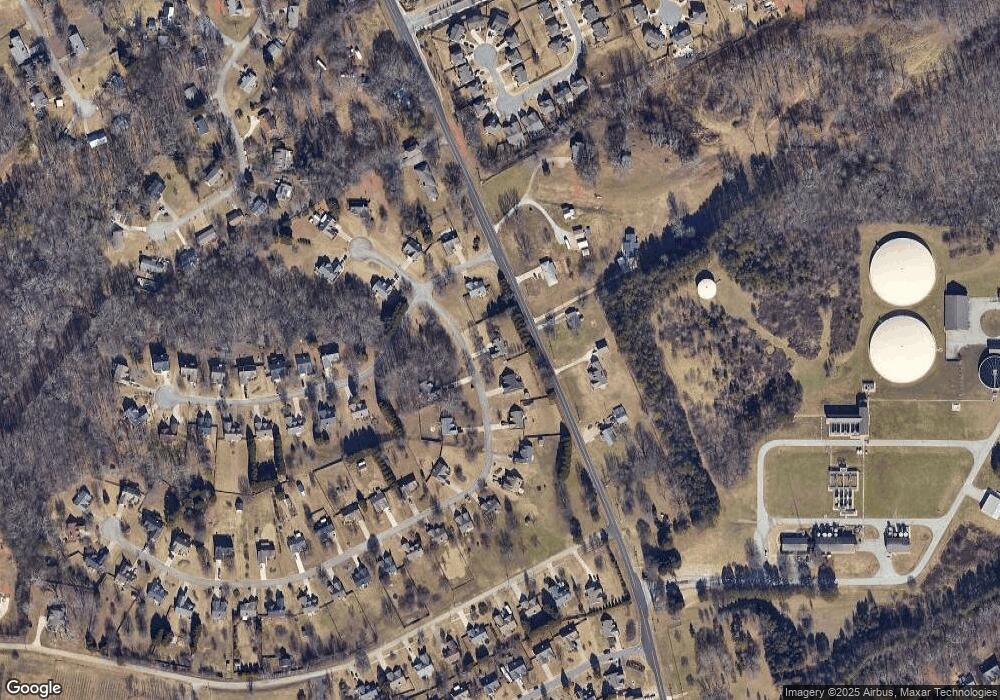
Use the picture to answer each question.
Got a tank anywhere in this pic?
Yes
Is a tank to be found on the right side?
Yes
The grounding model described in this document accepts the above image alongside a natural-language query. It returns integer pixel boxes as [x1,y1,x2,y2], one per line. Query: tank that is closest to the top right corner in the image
[868,237,937,306]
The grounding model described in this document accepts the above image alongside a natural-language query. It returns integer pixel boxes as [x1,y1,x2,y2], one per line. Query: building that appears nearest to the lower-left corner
[45,608,72,630]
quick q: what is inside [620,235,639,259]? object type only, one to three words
house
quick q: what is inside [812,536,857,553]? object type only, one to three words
building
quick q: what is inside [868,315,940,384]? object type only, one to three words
storage tank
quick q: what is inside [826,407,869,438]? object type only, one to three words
building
